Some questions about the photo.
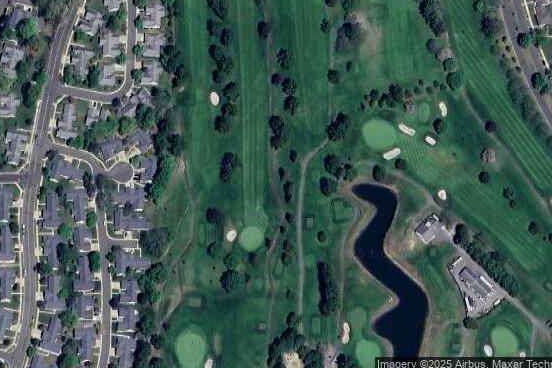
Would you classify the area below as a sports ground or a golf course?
golf course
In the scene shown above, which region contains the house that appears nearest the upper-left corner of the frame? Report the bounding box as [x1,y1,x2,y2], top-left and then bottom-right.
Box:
[6,3,28,27]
